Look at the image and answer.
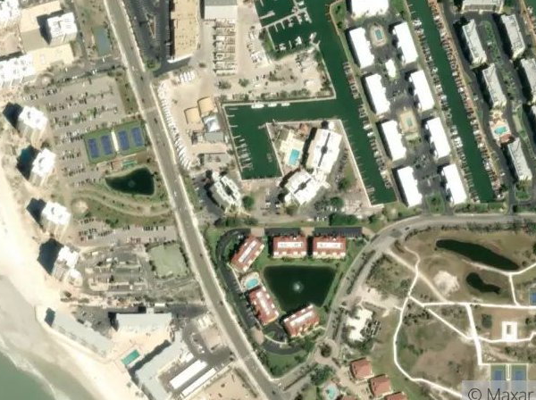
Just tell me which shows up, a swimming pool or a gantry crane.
swimming pool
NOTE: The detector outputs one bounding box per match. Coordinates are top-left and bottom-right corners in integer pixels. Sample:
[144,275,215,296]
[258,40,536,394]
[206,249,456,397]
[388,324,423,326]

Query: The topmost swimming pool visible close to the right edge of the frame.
[491,118,510,139]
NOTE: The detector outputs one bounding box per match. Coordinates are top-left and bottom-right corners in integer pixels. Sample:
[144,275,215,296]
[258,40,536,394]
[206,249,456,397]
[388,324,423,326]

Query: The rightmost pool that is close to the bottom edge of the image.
[319,382,341,400]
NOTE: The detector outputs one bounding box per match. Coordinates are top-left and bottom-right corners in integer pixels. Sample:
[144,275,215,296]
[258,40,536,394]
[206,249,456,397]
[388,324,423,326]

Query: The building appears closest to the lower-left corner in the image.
[54,312,113,362]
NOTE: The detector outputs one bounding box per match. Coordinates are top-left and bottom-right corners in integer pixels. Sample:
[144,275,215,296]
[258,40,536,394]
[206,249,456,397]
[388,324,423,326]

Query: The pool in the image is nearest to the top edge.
[370,24,386,46]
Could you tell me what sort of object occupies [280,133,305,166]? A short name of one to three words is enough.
swimming pool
